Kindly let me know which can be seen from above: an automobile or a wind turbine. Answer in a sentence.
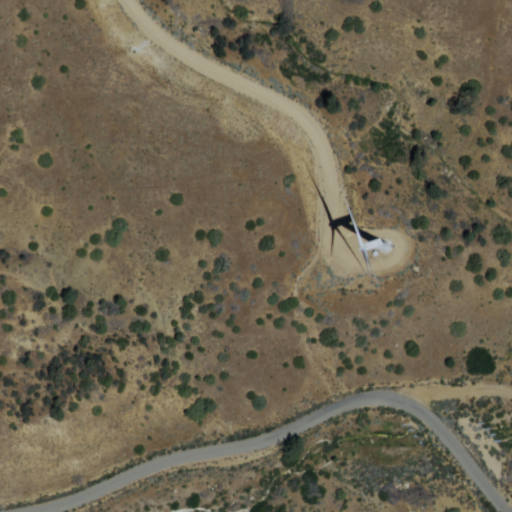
There is a wind turbine in the scene.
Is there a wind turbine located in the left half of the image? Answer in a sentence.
No, I see no wind turbine in the left half of the image.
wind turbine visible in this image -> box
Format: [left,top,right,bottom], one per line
[340,187,394,281]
